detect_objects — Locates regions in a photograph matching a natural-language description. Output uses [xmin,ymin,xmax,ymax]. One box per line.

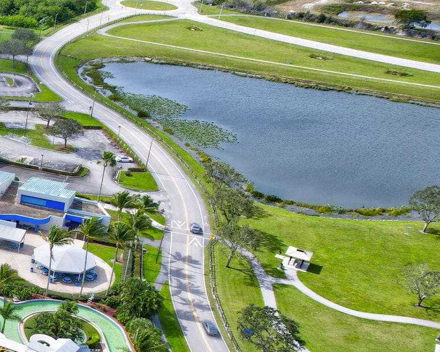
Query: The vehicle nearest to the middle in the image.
[189,220,203,234]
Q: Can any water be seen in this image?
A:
Yes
